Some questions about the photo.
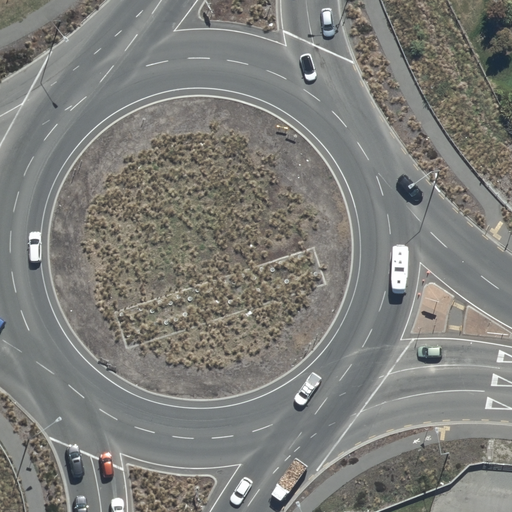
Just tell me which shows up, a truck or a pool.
truck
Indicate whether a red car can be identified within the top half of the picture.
No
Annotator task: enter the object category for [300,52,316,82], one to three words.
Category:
car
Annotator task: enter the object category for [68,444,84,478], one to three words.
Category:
car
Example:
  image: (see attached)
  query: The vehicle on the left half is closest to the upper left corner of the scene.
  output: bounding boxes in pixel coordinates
[28,232,42,262]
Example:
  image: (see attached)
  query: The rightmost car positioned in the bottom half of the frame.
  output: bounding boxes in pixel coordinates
[417,344,442,358]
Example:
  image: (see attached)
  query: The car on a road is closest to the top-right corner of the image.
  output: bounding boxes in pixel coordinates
[320,8,335,38]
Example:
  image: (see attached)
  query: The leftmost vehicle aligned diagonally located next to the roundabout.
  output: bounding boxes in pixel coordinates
[229,476,254,506]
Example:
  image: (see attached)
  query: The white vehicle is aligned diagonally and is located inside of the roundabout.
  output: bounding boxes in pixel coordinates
[295,372,322,406]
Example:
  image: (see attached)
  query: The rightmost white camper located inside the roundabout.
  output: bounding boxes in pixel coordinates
[390,243,408,294]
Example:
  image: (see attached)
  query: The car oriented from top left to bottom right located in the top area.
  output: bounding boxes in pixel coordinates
[396,172,422,204]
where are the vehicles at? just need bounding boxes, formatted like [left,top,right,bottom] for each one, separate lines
[390,243,408,294]
[229,476,254,506]
[74,496,88,512]
[396,172,422,204]
[28,232,42,262]
[300,52,316,82]
[110,498,125,512]
[99,452,114,478]
[295,372,322,406]
[68,444,84,478]
[417,344,442,358]
[320,8,335,38]
[270,458,308,503]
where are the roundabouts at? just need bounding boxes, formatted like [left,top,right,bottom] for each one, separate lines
[0,29,420,467]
